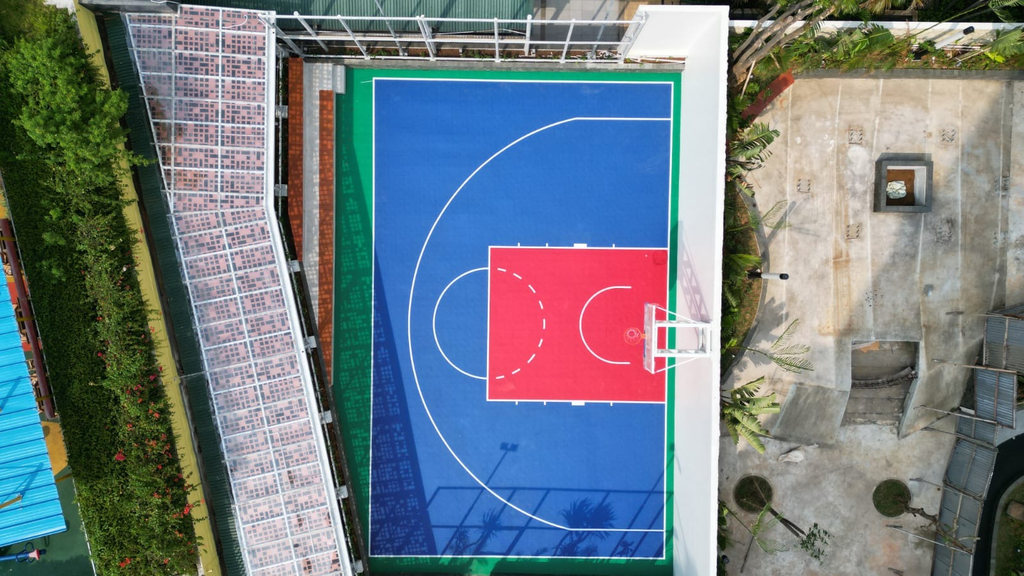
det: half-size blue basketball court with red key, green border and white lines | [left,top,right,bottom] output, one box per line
[334,68,681,574]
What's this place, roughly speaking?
sports ground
